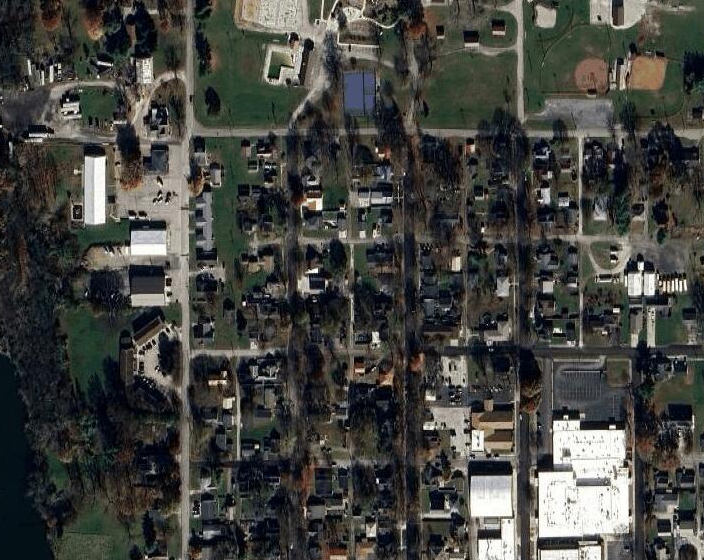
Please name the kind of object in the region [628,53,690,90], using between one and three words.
baseball field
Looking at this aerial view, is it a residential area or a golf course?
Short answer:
residential area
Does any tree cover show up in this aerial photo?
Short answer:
Yes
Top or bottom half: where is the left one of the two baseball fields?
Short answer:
top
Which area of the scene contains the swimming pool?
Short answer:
top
